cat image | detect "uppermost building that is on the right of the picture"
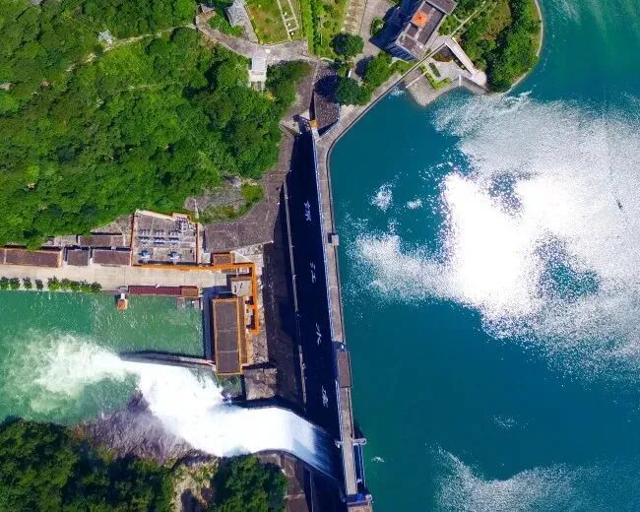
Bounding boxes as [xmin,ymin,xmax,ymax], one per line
[388,0,457,62]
